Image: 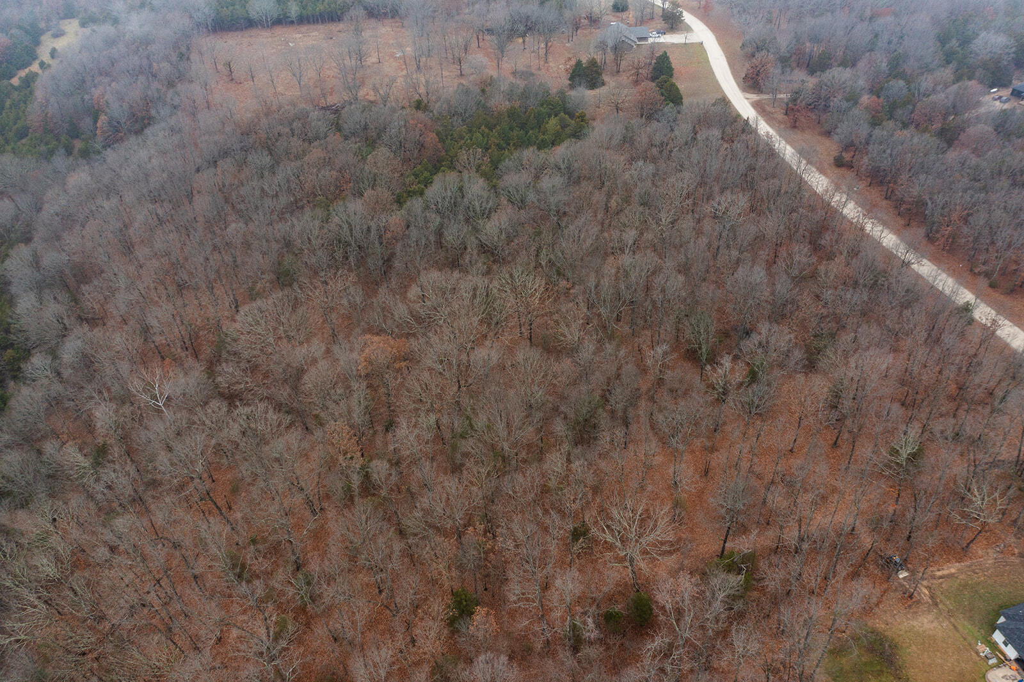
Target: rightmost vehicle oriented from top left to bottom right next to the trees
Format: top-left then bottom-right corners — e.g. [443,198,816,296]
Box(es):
[882,550,914,585]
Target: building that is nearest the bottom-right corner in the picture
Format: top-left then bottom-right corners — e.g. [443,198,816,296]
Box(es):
[990,592,1024,663]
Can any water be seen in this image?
No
